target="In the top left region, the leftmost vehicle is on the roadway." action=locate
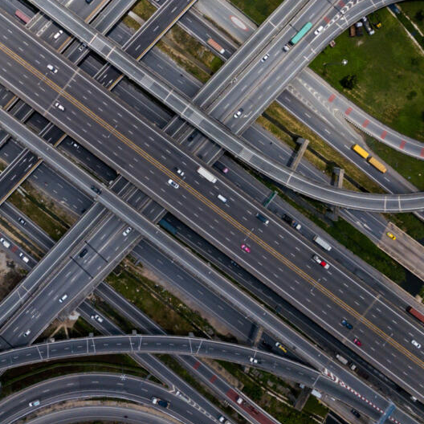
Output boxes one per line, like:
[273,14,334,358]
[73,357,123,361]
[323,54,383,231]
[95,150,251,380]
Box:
[11,7,33,24]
